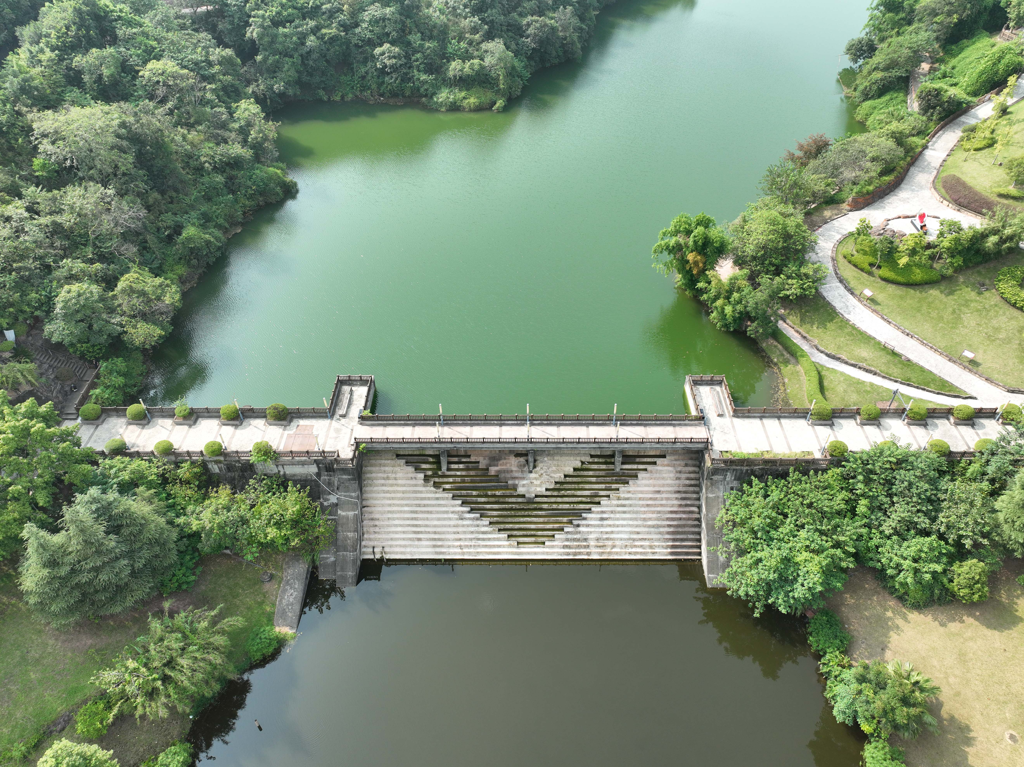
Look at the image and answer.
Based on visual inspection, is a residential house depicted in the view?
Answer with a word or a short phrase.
No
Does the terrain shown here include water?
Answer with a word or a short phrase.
Yes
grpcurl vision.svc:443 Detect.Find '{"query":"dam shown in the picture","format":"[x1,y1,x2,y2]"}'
[12,377,1024,587]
